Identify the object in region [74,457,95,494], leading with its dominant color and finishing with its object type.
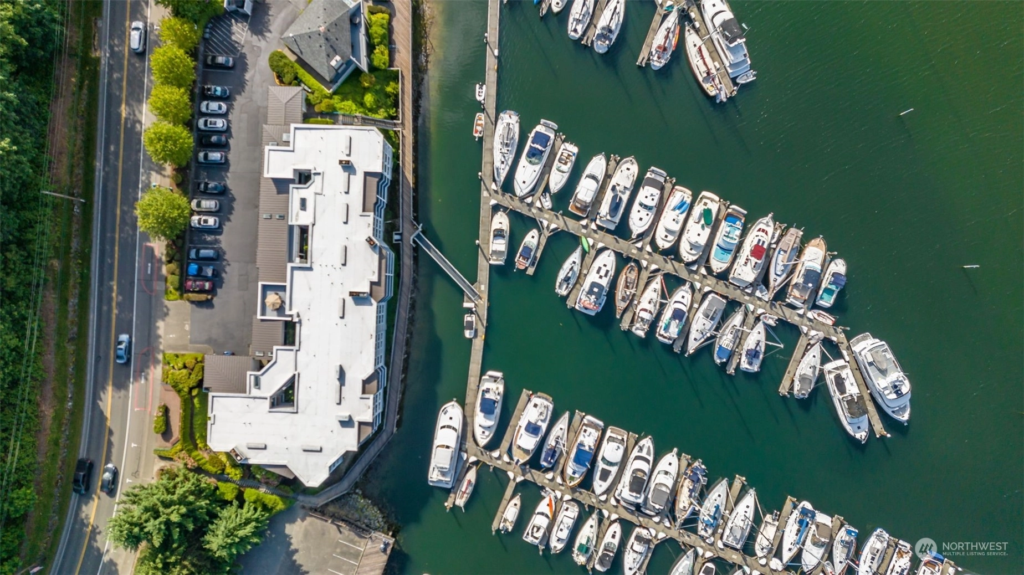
black truck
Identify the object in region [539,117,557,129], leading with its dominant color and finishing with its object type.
white boat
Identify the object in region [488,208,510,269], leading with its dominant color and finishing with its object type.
white boat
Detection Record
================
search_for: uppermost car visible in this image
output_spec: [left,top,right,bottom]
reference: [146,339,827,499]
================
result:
[128,21,147,54]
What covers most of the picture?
water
